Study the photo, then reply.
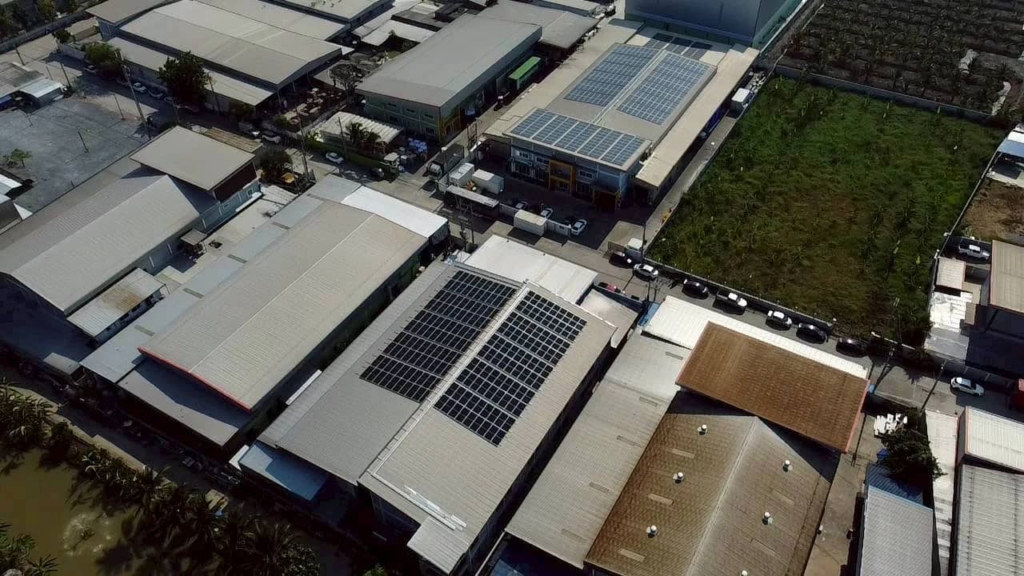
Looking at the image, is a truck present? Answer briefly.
Yes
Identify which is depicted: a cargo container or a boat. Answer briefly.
cargo container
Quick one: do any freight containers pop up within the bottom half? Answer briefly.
No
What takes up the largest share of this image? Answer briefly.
buildings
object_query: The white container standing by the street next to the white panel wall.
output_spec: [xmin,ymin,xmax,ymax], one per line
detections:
[509,206,551,237]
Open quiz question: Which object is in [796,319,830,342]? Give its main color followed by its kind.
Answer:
black car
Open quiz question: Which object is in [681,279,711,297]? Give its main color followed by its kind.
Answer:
black car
